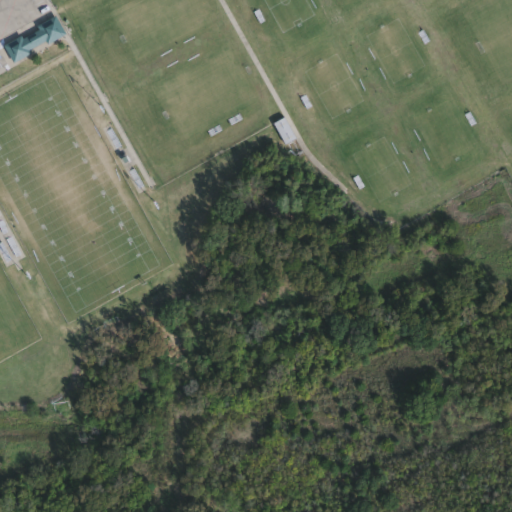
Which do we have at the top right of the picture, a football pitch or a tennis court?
football pitch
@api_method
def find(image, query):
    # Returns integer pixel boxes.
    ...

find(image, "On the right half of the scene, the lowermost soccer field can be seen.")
[353,136,412,202]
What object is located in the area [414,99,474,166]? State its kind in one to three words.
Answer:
soccer field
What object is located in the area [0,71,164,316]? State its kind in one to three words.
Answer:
sports field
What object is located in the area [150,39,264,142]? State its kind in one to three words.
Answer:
soccer field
